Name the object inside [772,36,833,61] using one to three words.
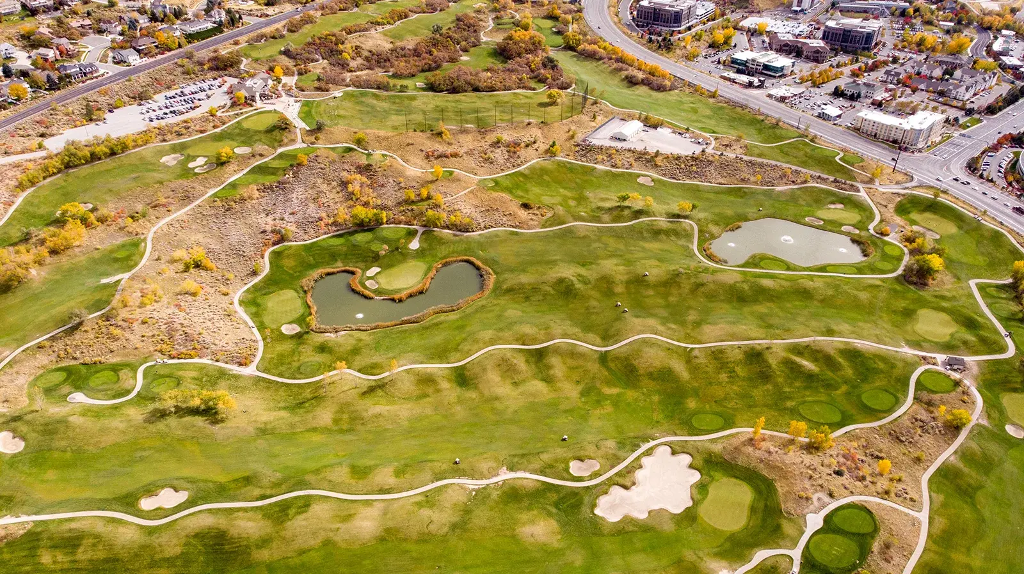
building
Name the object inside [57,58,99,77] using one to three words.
house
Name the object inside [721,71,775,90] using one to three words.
building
